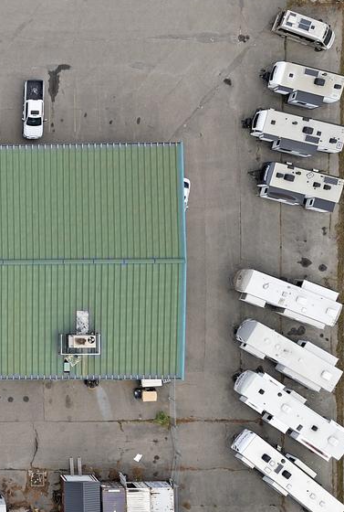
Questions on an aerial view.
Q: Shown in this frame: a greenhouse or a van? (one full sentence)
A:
Visible in the photo is a van.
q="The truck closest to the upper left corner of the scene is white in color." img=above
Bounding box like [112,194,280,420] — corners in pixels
[21,79,46,141]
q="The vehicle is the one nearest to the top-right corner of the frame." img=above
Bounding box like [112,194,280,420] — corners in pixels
[267,11,331,53]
